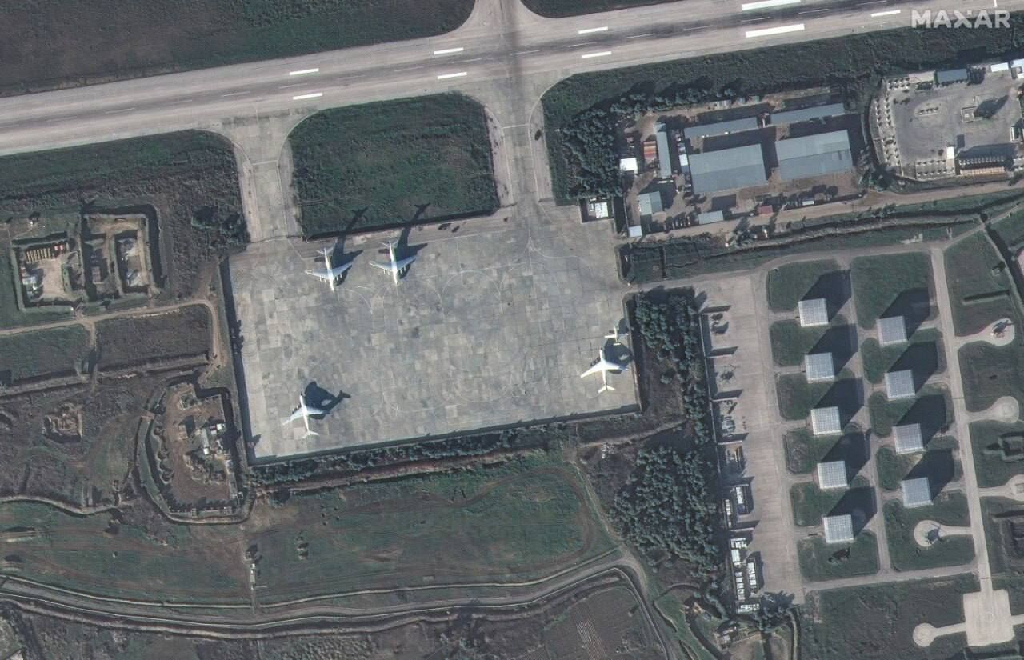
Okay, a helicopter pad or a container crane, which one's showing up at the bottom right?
helicopter pad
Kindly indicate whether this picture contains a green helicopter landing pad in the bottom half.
No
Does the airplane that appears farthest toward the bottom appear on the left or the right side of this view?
left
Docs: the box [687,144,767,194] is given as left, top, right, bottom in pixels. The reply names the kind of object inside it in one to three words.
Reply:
building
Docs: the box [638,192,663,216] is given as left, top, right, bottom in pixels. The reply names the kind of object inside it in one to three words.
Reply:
shed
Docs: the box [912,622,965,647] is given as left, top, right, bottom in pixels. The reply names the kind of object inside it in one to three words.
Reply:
helipad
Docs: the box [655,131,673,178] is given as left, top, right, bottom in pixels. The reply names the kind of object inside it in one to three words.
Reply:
shed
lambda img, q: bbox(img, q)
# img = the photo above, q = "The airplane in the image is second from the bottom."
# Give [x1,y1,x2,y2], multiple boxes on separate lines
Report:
[581,349,629,391]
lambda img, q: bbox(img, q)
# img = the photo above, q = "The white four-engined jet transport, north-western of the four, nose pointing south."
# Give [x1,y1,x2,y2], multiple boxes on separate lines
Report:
[304,246,352,292]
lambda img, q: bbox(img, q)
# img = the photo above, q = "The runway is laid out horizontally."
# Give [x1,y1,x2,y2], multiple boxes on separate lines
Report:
[0,0,1024,156]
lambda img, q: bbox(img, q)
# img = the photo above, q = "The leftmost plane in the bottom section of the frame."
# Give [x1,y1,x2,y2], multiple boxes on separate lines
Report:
[282,395,330,436]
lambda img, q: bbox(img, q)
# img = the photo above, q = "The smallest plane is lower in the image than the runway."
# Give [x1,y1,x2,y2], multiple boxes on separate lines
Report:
[604,327,628,343]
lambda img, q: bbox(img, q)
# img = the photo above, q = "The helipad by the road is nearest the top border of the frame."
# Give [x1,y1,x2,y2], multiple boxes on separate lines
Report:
[957,318,1016,345]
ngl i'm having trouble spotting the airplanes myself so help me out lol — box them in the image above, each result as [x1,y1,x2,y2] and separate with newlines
[604,327,628,343]
[282,395,330,436]
[581,349,629,391]
[368,241,416,286]
[304,246,352,292]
